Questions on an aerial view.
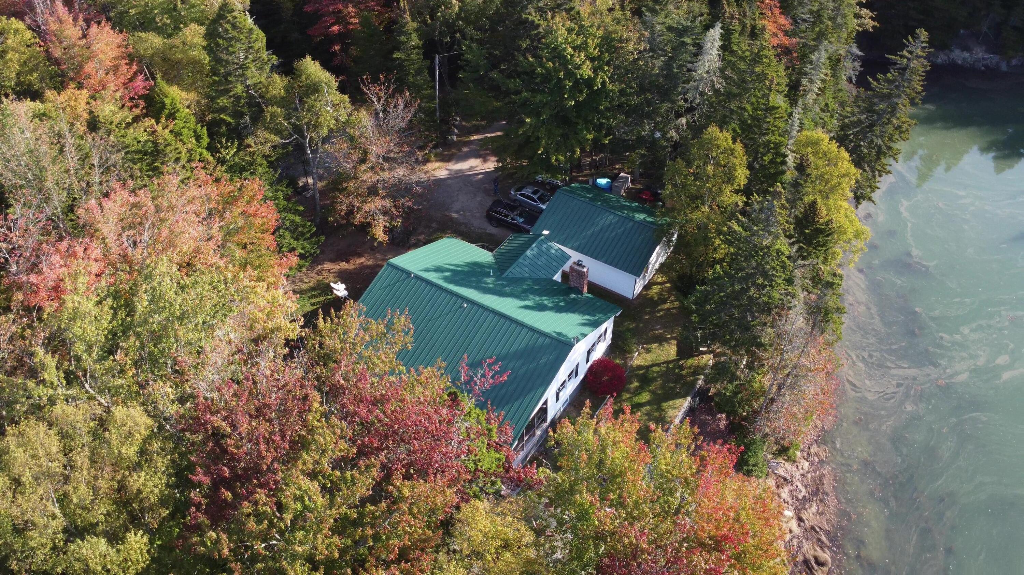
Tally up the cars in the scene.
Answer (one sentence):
My tally gives 2 cars in this view.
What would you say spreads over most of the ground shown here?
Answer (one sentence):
What you mostly see from above here is trees.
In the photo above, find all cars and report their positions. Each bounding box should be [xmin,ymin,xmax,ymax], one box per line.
[483,198,539,234]
[506,181,554,209]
